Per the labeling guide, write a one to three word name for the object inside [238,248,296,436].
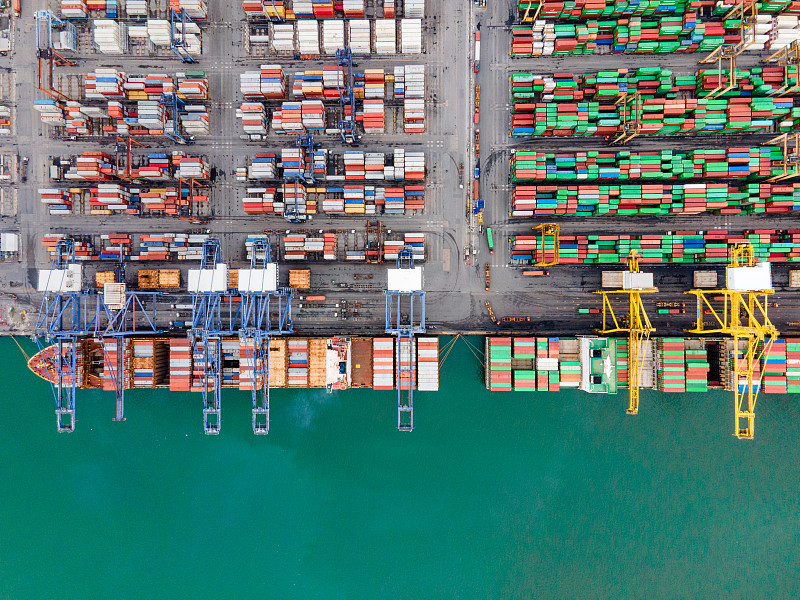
container crane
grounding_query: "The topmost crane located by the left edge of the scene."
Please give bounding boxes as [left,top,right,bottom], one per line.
[35,11,78,68]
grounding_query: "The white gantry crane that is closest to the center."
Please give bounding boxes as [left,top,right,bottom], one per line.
[385,248,427,432]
